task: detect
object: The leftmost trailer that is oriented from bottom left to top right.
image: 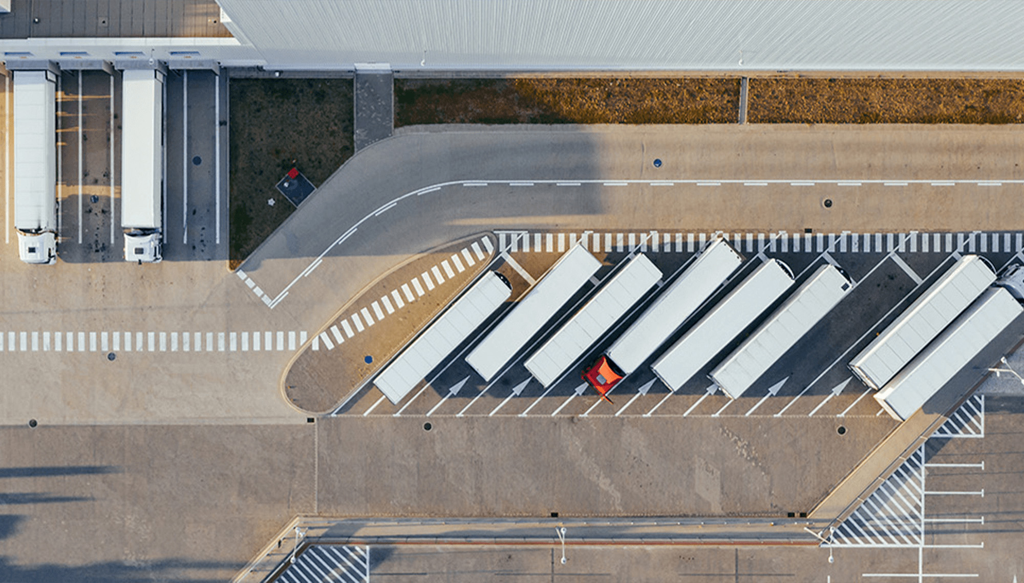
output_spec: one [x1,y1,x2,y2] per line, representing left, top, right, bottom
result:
[374,270,511,404]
